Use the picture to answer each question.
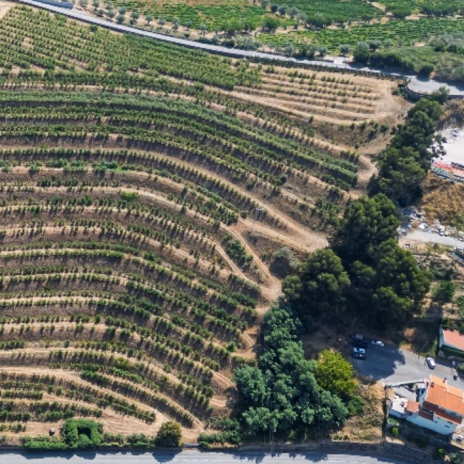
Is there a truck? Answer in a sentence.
No, the picture doesn't show any truck.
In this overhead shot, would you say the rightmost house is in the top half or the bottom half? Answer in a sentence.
You can find the rightmost house in the bottom half.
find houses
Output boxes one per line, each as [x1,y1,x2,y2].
[368,374,463,439]
[435,332,464,366]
